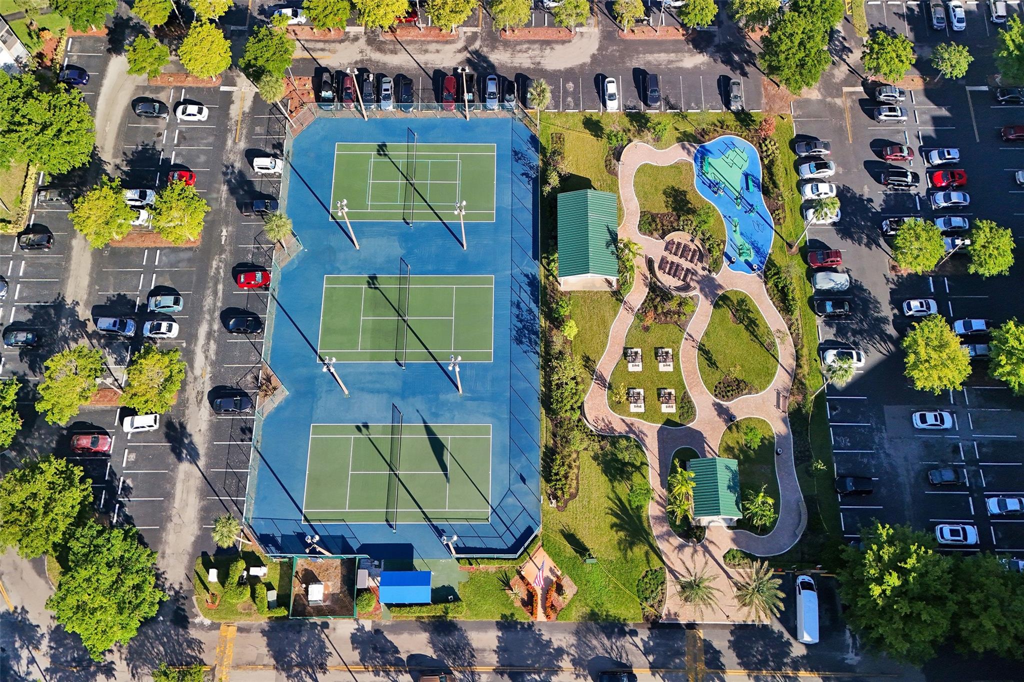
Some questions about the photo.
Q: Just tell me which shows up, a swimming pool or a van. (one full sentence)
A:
The one in the frame is a van.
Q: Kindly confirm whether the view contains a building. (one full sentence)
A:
Yes, looking at the shot, I can spot a building.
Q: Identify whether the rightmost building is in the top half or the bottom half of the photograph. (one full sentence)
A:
You can find the rightmost building in the bottom half.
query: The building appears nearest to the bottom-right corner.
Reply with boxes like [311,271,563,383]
[686,457,742,526]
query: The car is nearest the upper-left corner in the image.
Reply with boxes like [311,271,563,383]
[57,68,91,86]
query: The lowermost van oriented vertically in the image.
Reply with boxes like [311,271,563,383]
[794,579,822,646]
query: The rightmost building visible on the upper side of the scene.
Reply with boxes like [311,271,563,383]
[557,189,619,290]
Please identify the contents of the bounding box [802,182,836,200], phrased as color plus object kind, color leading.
white car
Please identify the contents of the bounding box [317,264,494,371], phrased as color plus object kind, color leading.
green tennis court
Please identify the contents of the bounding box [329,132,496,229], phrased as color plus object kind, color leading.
green tennis court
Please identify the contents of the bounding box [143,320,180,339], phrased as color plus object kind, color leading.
white car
